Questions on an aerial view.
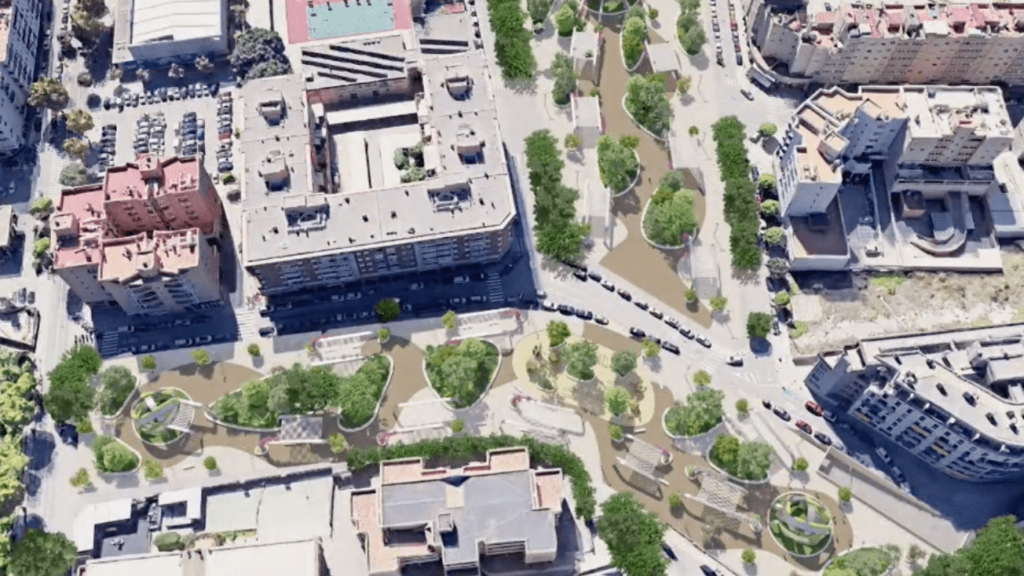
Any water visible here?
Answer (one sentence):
No, the picture contains no water.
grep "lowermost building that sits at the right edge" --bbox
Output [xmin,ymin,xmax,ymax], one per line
[801,326,1024,483]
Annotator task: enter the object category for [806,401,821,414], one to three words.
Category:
vehicle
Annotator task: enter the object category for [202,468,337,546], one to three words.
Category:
building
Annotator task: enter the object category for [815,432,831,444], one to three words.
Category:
vehicle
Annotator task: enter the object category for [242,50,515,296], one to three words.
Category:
building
